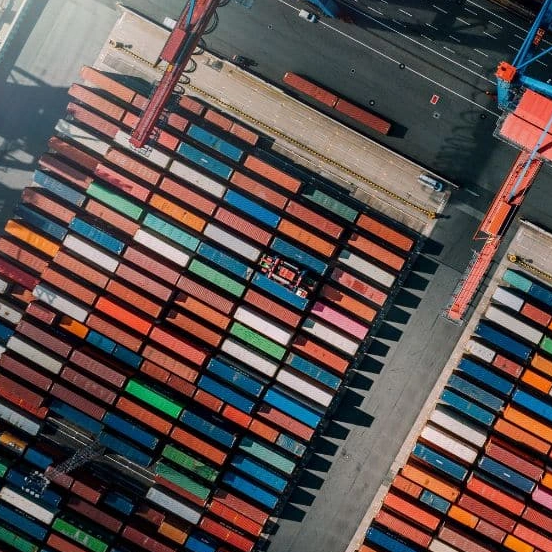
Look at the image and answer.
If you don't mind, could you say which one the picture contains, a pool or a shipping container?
shipping container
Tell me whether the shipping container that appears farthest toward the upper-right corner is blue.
No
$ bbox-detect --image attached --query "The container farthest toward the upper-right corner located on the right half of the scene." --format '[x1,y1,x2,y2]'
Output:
[335,98,393,137]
